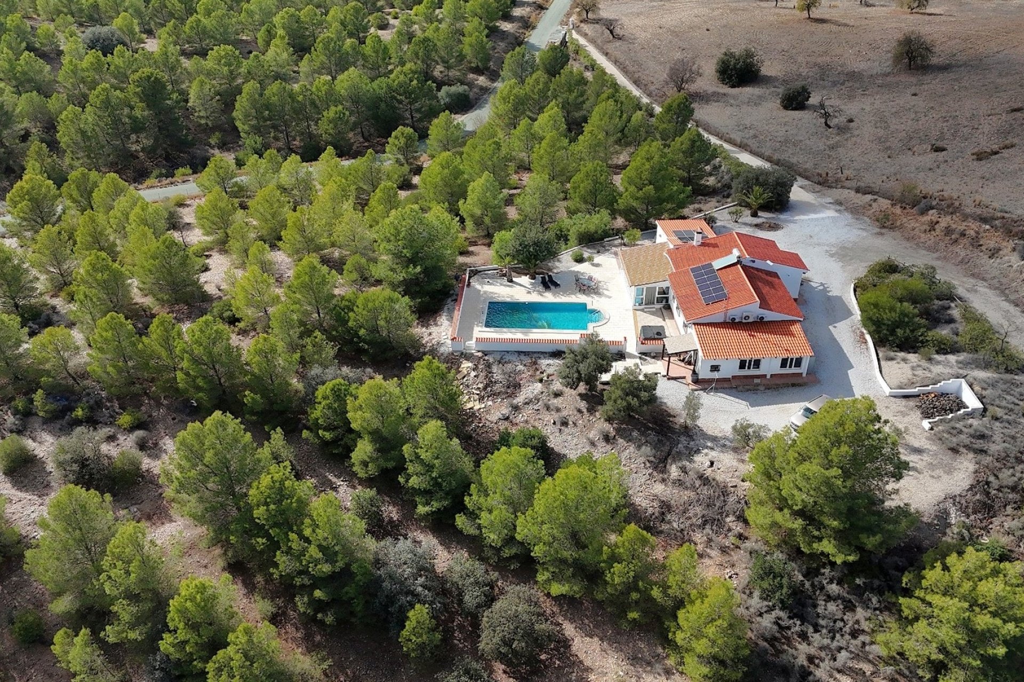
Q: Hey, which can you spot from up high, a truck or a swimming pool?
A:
swimming pool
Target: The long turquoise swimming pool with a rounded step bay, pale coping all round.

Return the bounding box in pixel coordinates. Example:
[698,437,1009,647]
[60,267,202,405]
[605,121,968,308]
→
[480,298,611,332]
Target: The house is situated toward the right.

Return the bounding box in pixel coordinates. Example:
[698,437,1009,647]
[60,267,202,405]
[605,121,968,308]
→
[617,218,814,380]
